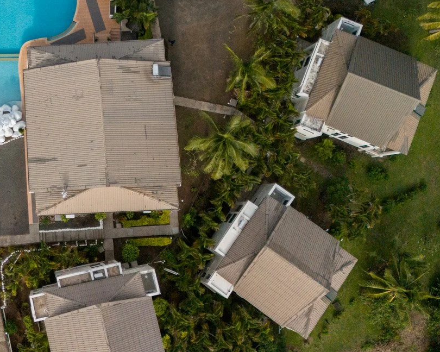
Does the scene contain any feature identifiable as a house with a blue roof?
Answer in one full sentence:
No, the picture doesn't show any house with a blue roof.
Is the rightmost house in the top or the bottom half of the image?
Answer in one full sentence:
The rightmost house is in the top half of the image.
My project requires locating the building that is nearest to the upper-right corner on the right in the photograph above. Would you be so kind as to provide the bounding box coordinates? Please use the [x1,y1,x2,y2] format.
[282,17,438,158]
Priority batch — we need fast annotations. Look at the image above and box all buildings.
[282,17,438,158]
[29,259,169,352]
[201,184,357,338]
[24,39,183,218]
